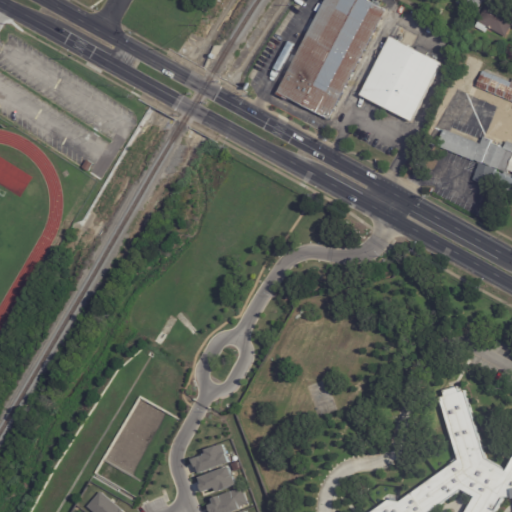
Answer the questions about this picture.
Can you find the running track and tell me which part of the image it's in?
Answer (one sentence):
The running track appears toward the left of the photo.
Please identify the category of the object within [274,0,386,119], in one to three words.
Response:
warehouse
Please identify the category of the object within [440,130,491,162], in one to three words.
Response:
building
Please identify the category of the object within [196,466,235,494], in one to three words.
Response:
house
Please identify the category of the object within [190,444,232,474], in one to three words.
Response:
house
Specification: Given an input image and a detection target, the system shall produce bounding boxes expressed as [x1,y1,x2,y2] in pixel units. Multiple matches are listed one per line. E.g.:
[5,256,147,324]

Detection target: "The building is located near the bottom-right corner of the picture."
[370,387,512,512]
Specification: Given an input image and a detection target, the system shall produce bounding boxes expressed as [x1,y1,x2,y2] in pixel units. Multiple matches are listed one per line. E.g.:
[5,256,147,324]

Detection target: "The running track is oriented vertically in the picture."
[0,130,63,314]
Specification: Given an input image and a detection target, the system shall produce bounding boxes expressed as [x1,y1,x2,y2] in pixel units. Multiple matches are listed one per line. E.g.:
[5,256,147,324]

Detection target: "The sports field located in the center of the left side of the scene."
[0,144,48,287]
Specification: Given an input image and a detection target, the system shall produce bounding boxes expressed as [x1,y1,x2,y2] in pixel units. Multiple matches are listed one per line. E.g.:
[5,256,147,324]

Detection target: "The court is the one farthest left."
[308,382,338,414]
